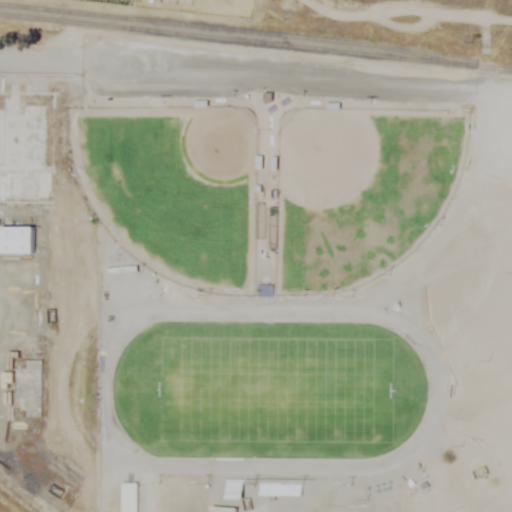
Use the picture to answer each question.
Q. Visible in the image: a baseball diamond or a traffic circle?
baseball diamond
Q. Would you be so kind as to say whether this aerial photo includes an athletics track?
Yes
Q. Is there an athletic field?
Yes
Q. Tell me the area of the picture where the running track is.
bottom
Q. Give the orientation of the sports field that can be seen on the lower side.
from side to side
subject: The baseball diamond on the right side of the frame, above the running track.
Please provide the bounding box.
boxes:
[282,108,472,296]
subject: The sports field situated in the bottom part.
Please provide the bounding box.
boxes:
[114,321,428,458]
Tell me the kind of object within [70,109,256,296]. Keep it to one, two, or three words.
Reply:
baseball field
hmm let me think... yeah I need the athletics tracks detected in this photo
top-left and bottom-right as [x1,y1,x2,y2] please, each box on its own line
[100,305,442,474]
